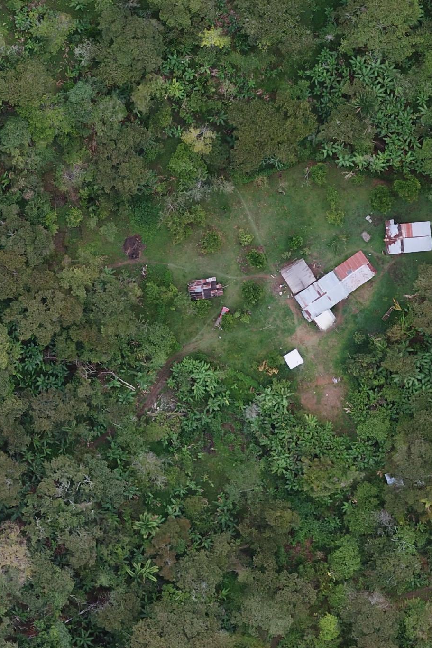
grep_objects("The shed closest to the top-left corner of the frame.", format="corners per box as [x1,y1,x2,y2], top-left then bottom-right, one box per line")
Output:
[189,277,228,300]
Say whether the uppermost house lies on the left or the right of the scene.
right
